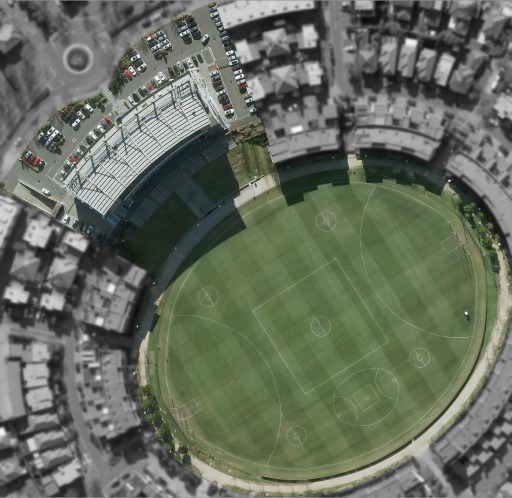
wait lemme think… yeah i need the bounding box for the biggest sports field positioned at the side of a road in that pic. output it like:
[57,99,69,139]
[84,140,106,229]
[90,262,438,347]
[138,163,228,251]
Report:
[146,170,500,485]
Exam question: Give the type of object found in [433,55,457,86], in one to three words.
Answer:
house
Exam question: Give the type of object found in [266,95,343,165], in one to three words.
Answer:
building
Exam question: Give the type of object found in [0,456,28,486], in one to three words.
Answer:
house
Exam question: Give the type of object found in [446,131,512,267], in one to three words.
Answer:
building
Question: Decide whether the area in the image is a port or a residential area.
residential area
